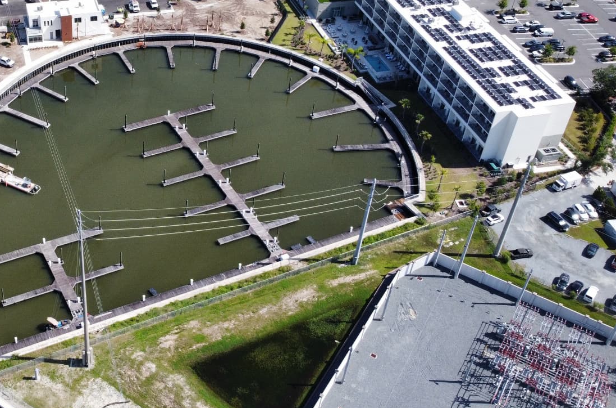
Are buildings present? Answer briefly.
Yes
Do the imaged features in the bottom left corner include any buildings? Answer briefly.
No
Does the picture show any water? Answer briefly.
Yes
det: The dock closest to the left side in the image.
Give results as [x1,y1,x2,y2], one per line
[0,227,124,320]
